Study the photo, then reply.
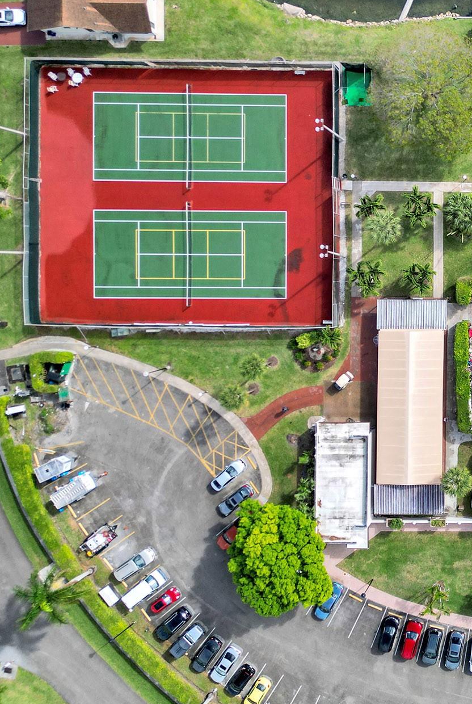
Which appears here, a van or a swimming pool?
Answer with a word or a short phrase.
van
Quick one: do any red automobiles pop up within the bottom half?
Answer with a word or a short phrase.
Yes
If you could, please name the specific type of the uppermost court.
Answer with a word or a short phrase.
tennis court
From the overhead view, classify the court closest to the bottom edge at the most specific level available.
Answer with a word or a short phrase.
tennis court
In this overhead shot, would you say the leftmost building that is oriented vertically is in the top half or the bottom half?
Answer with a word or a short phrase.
bottom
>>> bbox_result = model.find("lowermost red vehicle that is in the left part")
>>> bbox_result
[149,586,183,615]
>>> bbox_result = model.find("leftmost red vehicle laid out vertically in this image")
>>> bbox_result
[402,618,423,660]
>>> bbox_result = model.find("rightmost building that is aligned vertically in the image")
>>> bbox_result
[373,299,447,514]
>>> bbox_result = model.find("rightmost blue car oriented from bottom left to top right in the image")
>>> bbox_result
[314,580,345,621]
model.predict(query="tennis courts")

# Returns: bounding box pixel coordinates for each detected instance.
[92,83,286,190]
[92,202,286,305]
